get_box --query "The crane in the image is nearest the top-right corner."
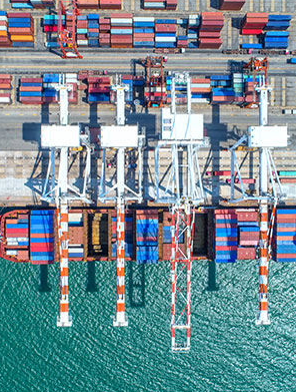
[240,54,268,108]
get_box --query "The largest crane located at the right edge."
[223,73,292,325]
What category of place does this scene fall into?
port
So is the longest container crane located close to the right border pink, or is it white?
white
